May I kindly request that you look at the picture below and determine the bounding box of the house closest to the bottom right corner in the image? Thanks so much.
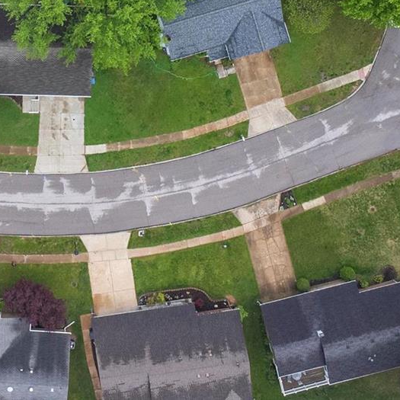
[255,279,400,381]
